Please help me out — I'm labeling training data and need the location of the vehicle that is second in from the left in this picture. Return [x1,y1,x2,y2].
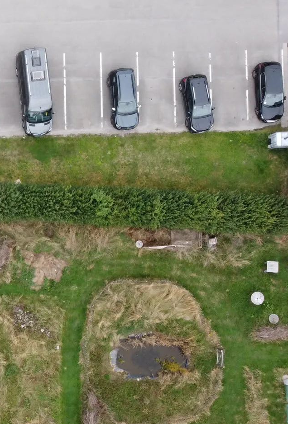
[108,67,146,131]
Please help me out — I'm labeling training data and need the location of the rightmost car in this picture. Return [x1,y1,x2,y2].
[253,61,288,124]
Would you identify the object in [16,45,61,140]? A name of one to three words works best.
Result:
van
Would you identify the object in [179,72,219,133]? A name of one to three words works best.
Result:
car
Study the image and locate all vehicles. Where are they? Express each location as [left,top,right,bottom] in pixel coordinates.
[16,45,61,140]
[108,67,146,131]
[253,61,288,124]
[179,72,219,133]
